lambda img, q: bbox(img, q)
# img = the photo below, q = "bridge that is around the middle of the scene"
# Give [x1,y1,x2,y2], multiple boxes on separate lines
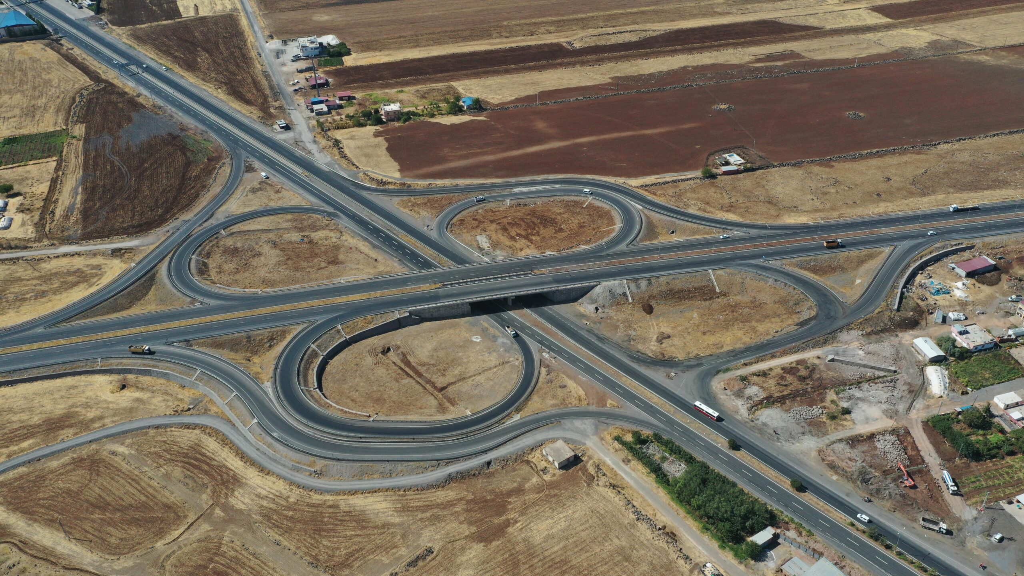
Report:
[341,248,596,323]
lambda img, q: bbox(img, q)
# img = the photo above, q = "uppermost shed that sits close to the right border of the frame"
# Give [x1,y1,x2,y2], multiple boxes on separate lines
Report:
[952,256,996,279]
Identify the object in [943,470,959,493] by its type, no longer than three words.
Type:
vehicle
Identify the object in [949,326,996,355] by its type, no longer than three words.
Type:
house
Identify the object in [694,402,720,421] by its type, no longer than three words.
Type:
vehicle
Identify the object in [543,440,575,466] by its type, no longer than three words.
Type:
shed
